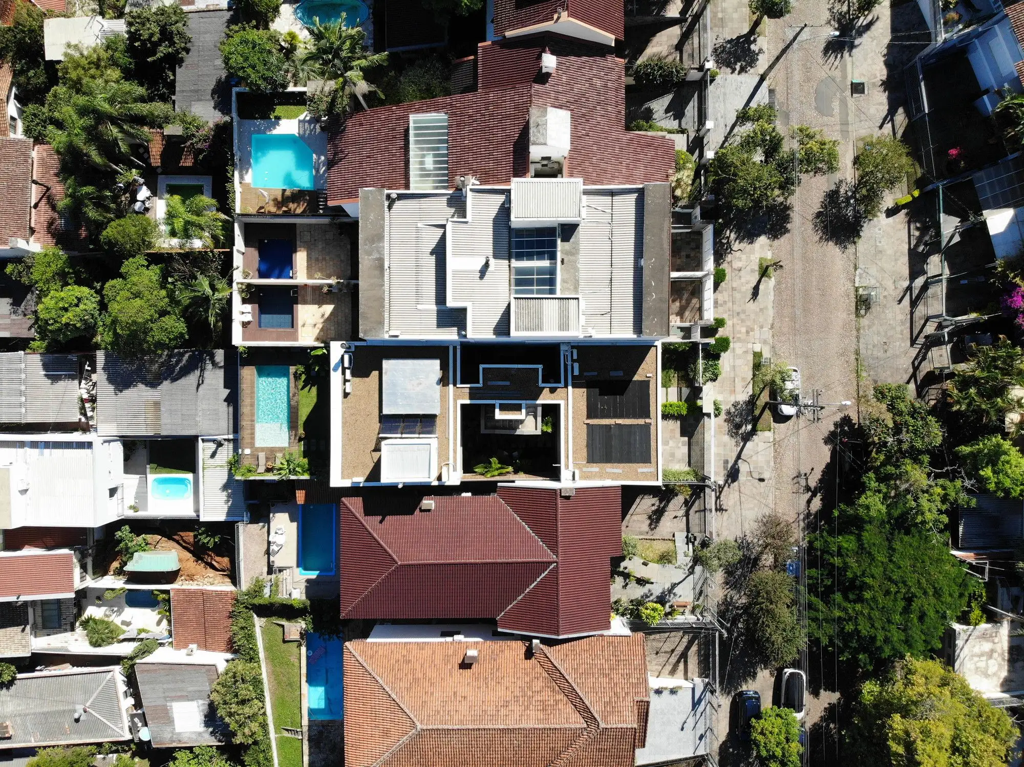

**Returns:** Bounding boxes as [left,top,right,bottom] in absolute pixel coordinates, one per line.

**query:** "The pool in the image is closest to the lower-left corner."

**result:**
[125,589,161,609]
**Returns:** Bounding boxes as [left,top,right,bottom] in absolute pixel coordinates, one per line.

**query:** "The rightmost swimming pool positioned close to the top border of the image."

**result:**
[293,0,371,30]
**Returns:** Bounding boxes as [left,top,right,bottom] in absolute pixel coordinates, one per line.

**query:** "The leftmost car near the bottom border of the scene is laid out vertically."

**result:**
[734,685,760,738]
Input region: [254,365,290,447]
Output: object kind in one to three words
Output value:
swimming pool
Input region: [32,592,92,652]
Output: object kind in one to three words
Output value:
house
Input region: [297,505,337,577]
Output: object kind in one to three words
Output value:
swimming pool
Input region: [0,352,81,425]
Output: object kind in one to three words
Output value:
shed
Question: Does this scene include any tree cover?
Yes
